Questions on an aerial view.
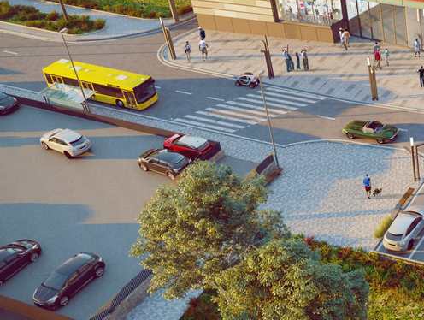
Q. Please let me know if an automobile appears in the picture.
Yes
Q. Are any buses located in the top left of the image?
Yes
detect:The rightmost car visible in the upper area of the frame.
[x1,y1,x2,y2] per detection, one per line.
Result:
[341,115,400,139]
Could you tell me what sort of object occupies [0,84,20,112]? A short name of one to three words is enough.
car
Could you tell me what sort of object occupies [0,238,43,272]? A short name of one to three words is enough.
car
